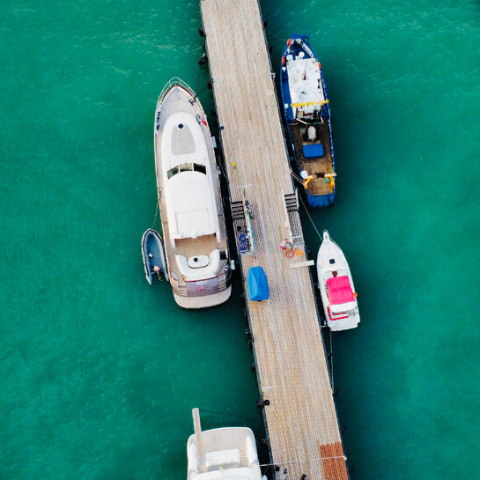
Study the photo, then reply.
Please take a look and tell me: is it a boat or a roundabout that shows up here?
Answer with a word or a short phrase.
boat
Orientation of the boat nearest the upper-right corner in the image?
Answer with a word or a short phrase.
from top to bottom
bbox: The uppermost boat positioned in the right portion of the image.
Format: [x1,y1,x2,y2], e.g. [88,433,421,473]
[280,29,335,210]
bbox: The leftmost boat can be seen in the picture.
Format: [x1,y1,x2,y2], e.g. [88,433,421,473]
[140,229,170,285]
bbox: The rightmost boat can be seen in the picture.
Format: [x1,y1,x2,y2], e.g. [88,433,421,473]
[318,228,360,331]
